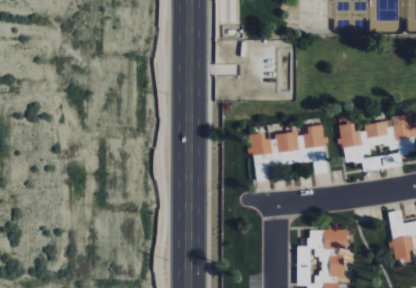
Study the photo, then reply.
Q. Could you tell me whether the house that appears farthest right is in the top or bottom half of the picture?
bottom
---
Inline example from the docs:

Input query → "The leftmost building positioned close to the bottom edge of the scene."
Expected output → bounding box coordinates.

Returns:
[297,230,348,288]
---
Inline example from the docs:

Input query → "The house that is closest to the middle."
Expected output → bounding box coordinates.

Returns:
[247,124,328,182]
